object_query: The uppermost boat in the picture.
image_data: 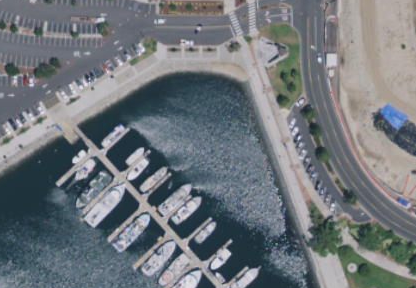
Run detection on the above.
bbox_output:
[100,126,125,148]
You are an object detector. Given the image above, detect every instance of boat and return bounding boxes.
[74,160,94,182]
[156,251,192,284]
[216,274,226,284]
[171,198,201,226]
[100,126,125,148]
[174,271,203,288]
[126,158,150,179]
[125,146,144,165]
[210,248,234,270]
[157,184,192,216]
[139,168,167,194]
[230,266,260,288]
[193,222,218,244]
[140,242,180,277]
[82,184,130,227]
[78,148,88,157]
[76,169,116,208]
[112,216,151,253]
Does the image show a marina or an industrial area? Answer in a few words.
marina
